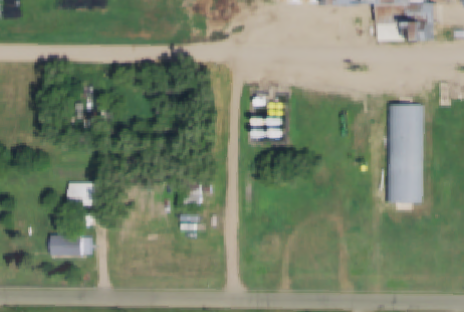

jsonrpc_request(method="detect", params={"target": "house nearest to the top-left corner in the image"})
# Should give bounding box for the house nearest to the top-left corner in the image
[4,0,22,17]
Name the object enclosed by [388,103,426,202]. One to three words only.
shed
